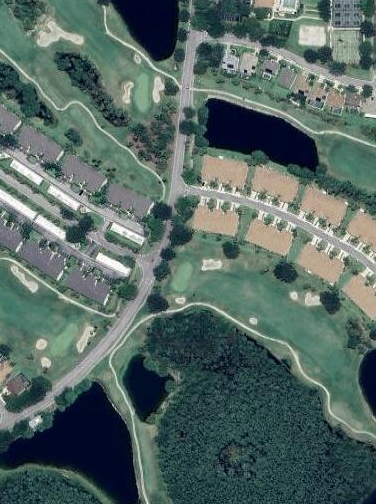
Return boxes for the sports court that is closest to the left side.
[299,25,325,46]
